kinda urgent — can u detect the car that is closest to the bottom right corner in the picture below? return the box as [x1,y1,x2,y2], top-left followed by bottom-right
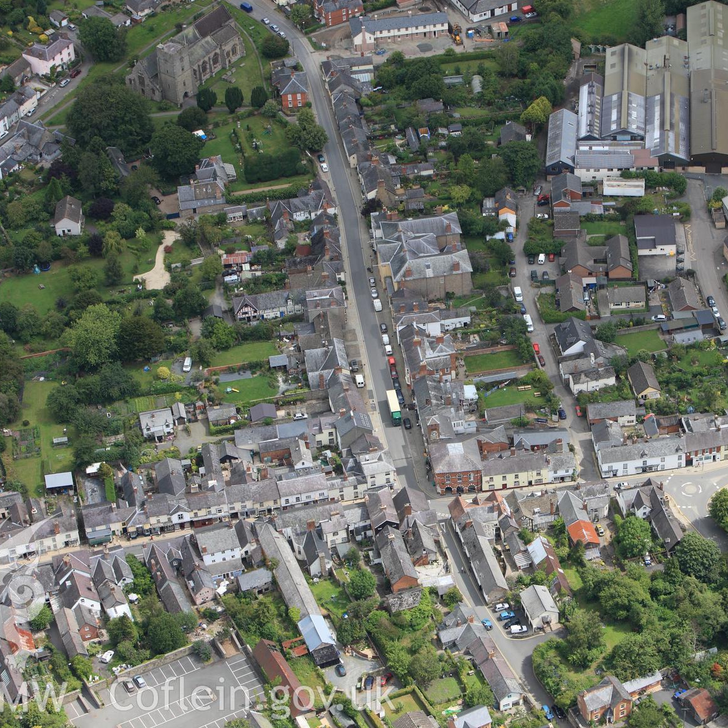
[672,687,688,700]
